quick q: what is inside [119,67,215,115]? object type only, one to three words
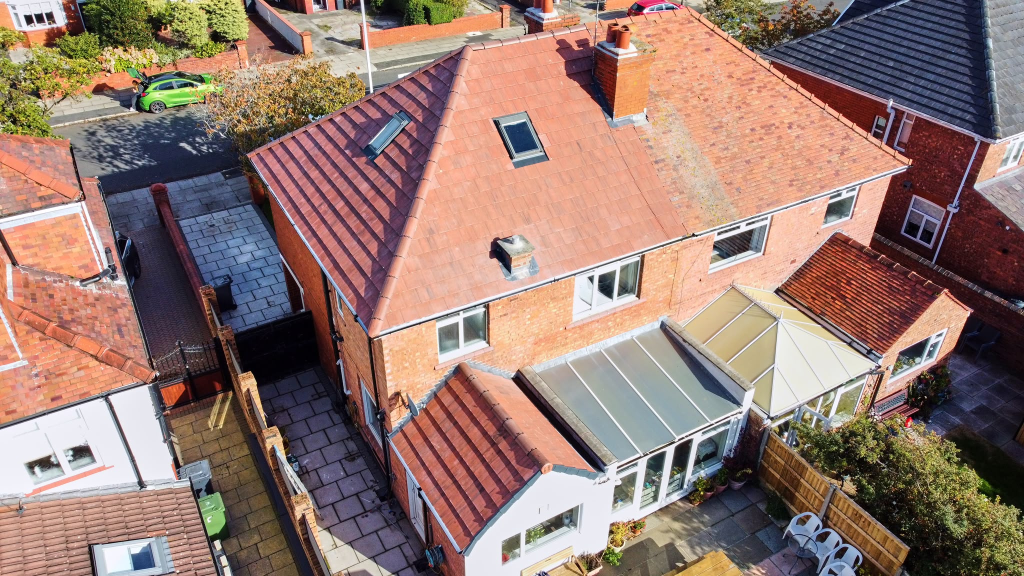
car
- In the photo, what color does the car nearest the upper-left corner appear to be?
green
